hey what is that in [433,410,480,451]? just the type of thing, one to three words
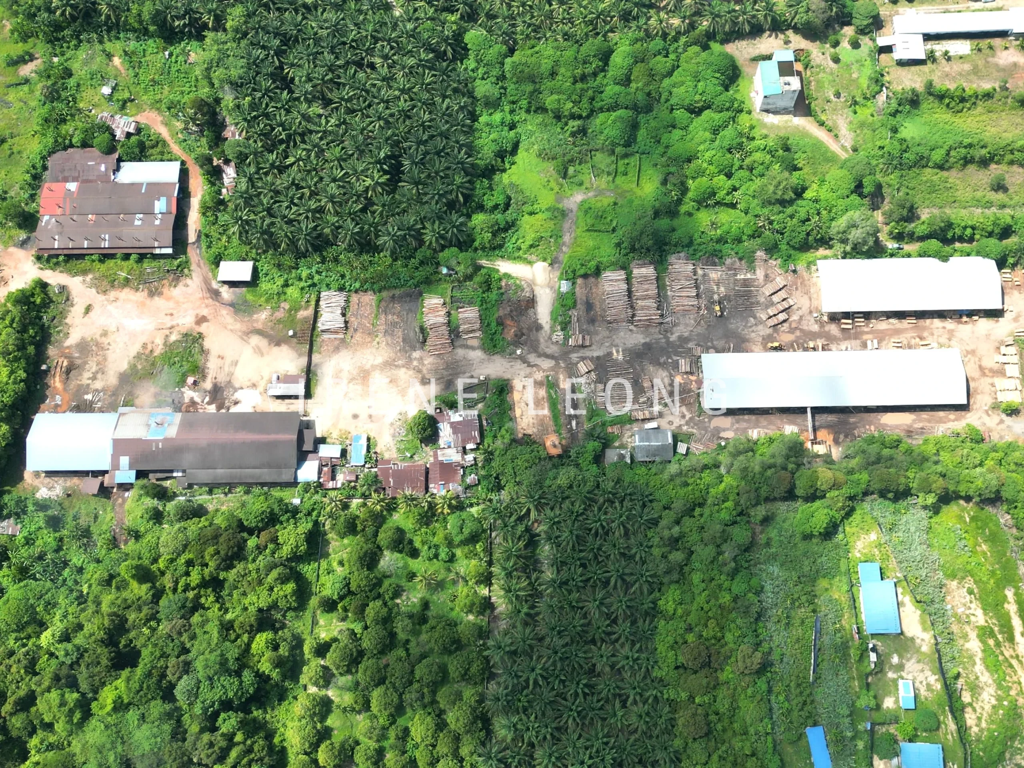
house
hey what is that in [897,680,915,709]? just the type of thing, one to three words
shed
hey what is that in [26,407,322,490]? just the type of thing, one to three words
building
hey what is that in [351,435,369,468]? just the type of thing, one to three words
shed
